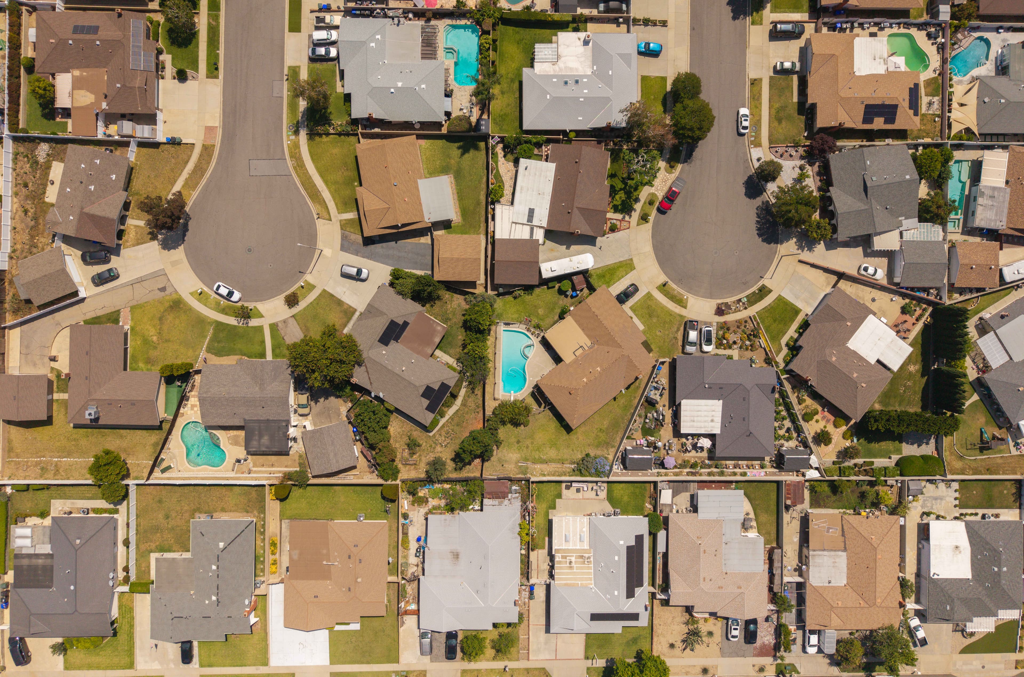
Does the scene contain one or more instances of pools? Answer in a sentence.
Yes, I can see a pool in this picture.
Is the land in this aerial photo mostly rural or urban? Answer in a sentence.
From above, the setting appears urban.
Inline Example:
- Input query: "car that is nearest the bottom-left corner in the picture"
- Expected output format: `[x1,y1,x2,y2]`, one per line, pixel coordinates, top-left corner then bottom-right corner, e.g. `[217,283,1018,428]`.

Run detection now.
[11,637,30,667]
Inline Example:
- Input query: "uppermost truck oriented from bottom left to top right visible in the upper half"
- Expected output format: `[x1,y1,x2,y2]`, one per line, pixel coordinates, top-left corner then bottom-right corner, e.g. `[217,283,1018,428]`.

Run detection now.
[658,176,686,213]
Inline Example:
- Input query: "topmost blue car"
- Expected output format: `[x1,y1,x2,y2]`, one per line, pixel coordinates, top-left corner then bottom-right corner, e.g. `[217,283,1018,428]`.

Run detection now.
[638,42,662,56]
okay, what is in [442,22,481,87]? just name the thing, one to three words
swimming pool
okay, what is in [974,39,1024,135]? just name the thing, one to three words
house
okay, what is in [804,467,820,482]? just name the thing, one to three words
umbrella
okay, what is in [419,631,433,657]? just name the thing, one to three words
car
